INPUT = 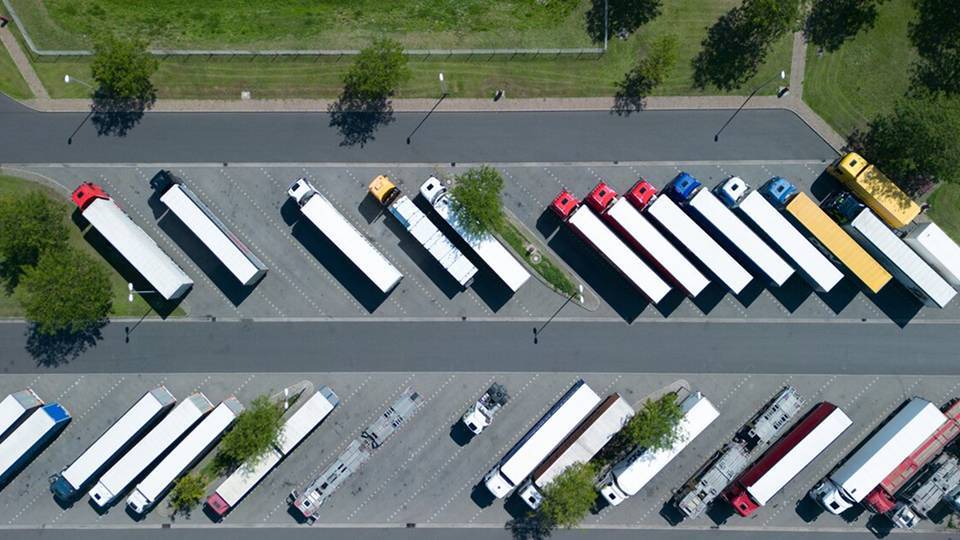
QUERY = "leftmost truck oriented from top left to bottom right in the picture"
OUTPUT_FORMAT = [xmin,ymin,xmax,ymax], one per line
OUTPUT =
[71,180,194,299]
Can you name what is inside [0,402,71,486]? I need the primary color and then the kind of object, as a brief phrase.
white truck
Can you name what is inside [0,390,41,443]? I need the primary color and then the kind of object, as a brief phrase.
white truck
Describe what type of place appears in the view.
parking lot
